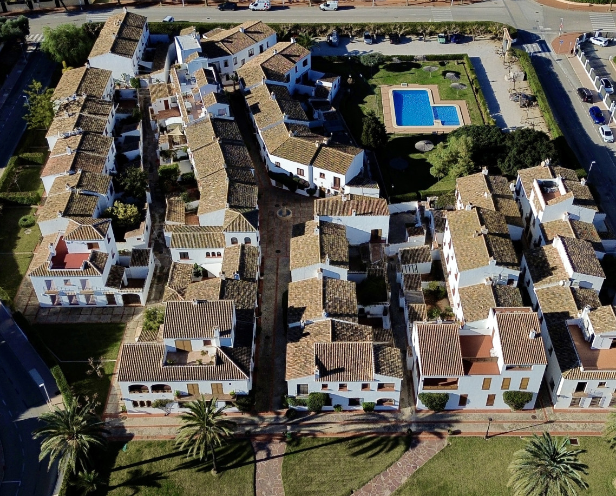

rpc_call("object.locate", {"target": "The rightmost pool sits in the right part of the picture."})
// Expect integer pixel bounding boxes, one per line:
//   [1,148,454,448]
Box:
[392,87,460,127]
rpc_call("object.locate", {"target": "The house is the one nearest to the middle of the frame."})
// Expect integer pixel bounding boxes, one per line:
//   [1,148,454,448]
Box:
[289,216,349,284]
